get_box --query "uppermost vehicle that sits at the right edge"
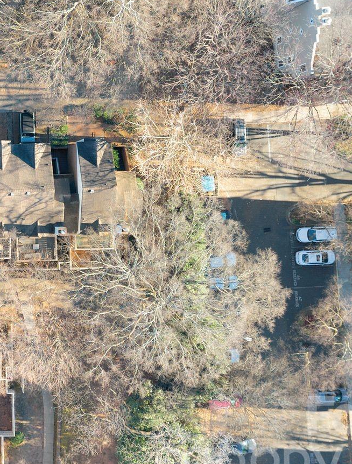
[295,226,336,243]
